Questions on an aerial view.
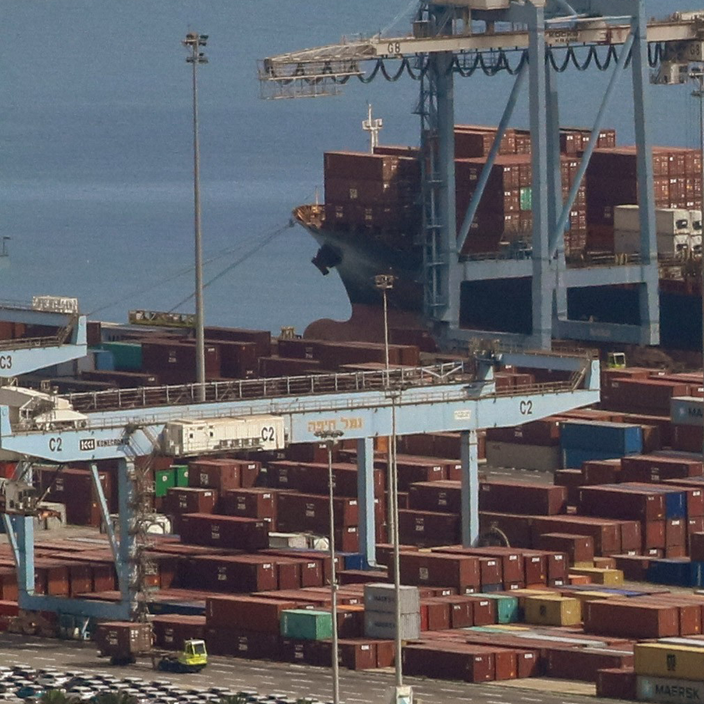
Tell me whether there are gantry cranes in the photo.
Yes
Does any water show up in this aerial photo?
Yes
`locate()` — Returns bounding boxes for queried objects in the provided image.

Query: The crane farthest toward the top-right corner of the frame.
[256,0,704,356]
